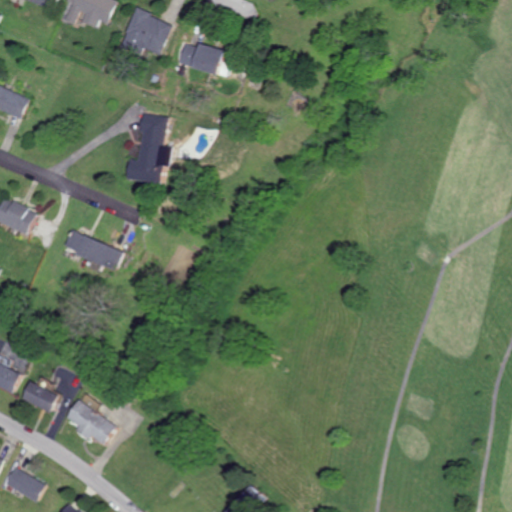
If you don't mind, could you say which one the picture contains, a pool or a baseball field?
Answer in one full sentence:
It is a pool that can be seen here.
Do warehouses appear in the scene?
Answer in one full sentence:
No, no warehouse is visible in the scene.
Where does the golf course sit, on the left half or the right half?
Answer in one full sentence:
The golf course sits on the right side.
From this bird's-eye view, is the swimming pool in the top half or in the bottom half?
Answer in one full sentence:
The top half of the photo is where the swimming pool is.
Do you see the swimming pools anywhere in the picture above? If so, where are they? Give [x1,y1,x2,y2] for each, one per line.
[179,126,219,160]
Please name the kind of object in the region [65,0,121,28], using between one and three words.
house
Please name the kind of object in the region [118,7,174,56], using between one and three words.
house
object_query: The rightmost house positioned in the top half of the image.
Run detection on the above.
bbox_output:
[182,43,226,74]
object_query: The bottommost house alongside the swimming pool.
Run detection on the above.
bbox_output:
[124,112,173,183]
